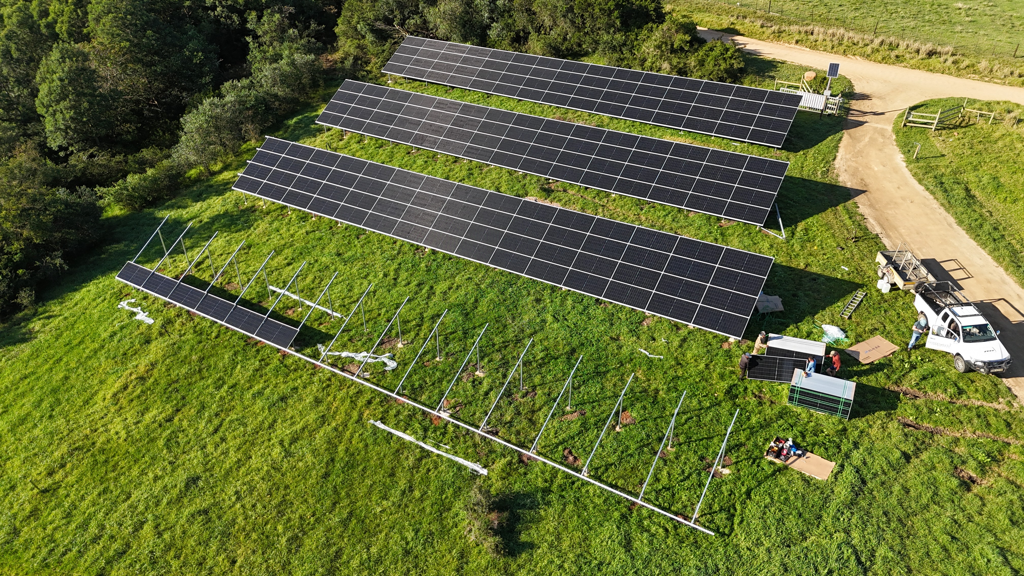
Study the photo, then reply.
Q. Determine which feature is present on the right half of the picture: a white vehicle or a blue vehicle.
white vehicle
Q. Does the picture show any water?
No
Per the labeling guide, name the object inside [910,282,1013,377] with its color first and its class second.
white truck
